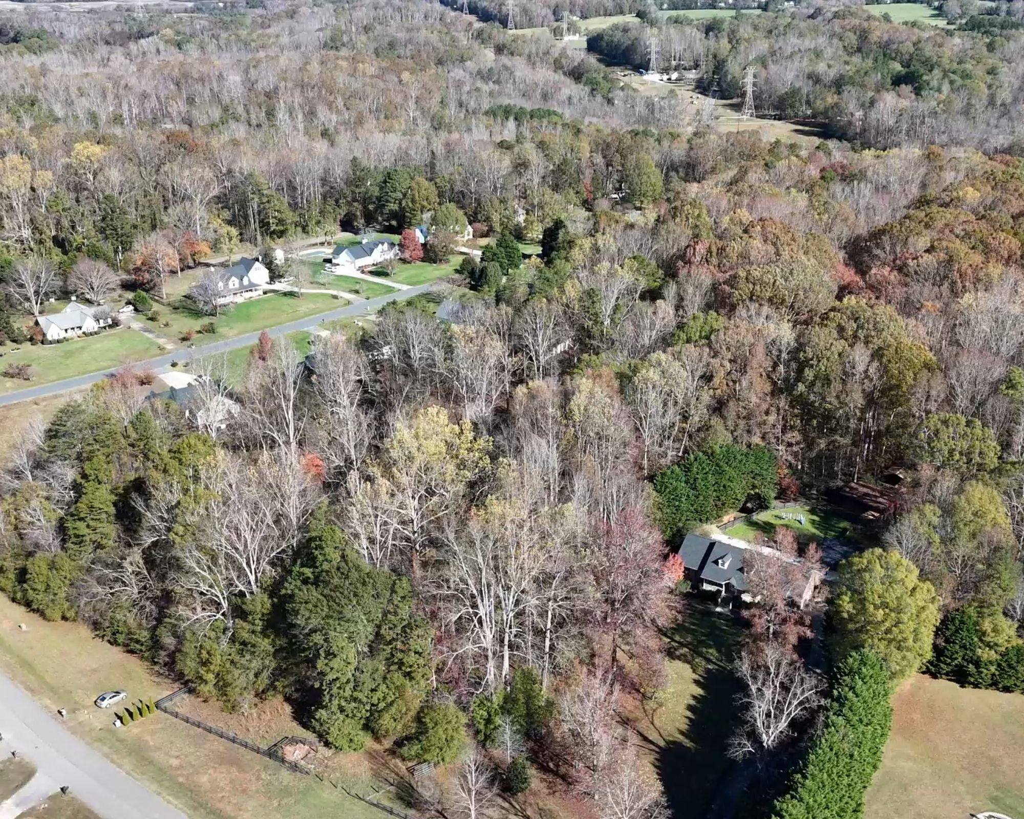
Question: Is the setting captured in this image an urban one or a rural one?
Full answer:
The land in this view is best described as rural.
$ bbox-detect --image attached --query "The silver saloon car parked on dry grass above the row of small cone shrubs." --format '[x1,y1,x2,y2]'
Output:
[93,691,128,711]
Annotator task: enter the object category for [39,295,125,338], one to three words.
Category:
house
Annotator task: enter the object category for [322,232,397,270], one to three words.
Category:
house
